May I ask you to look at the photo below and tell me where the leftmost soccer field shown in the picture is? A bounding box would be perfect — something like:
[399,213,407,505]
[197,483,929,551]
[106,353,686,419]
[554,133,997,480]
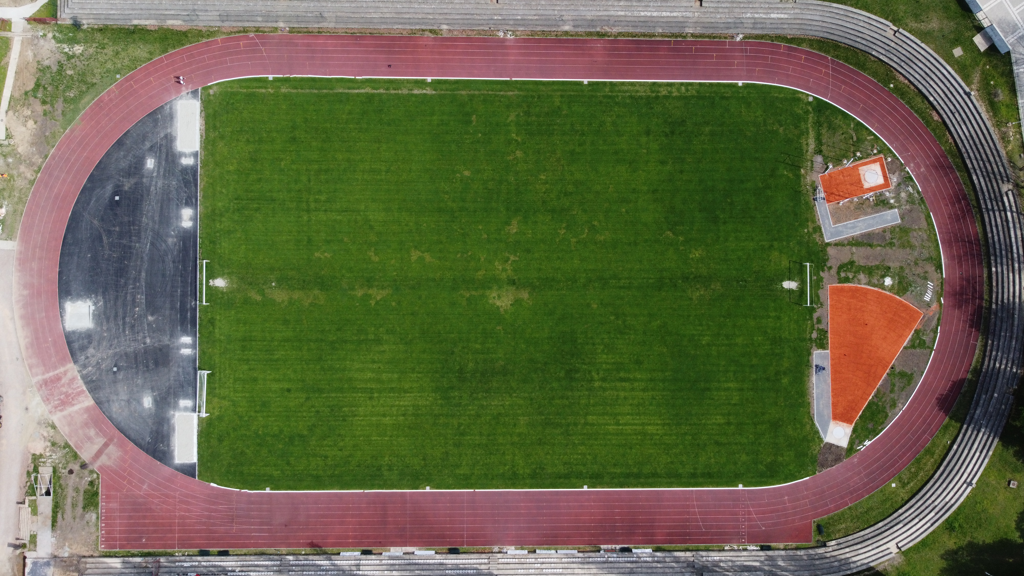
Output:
[198,76,816,491]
